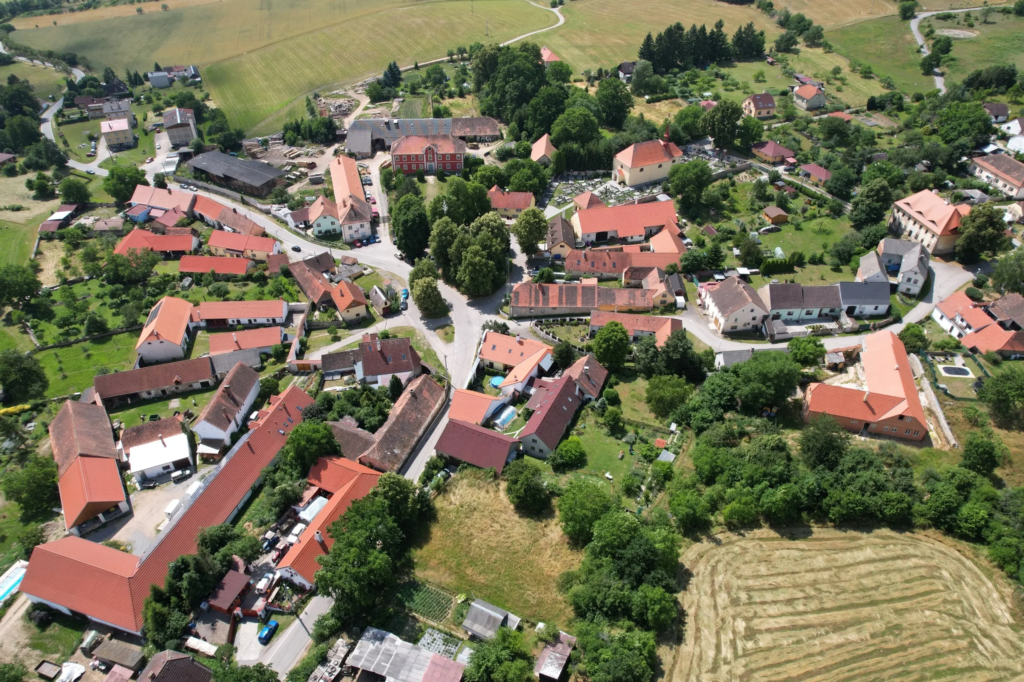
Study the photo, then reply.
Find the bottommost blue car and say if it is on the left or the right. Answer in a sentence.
The bottommost blue car is on the left side of the image.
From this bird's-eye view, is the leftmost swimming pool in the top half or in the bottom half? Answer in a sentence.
You can find the leftmost swimming pool in the bottom half.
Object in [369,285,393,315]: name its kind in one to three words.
building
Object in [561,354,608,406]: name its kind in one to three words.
house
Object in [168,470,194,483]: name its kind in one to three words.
vehicle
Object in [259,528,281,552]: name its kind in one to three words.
work vehicle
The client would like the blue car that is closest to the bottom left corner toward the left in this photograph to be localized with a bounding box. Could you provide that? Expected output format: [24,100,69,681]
[255,619,281,646]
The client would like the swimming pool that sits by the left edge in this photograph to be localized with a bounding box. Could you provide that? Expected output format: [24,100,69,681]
[0,562,28,607]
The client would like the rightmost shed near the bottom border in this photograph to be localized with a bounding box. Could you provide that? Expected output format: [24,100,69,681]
[541,631,575,682]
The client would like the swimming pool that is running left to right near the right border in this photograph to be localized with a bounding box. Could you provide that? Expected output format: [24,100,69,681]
[936,365,975,378]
